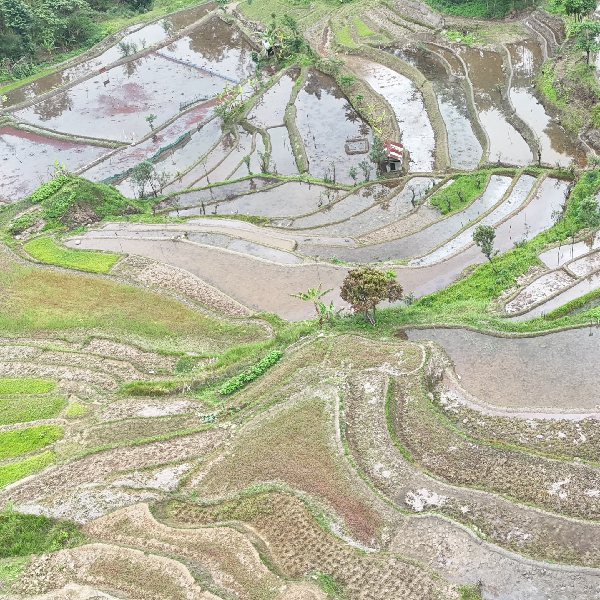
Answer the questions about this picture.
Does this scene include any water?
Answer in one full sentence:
Yes, water can be seen from above here.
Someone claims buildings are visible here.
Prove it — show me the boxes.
[380,137,406,167]
[257,40,280,63]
